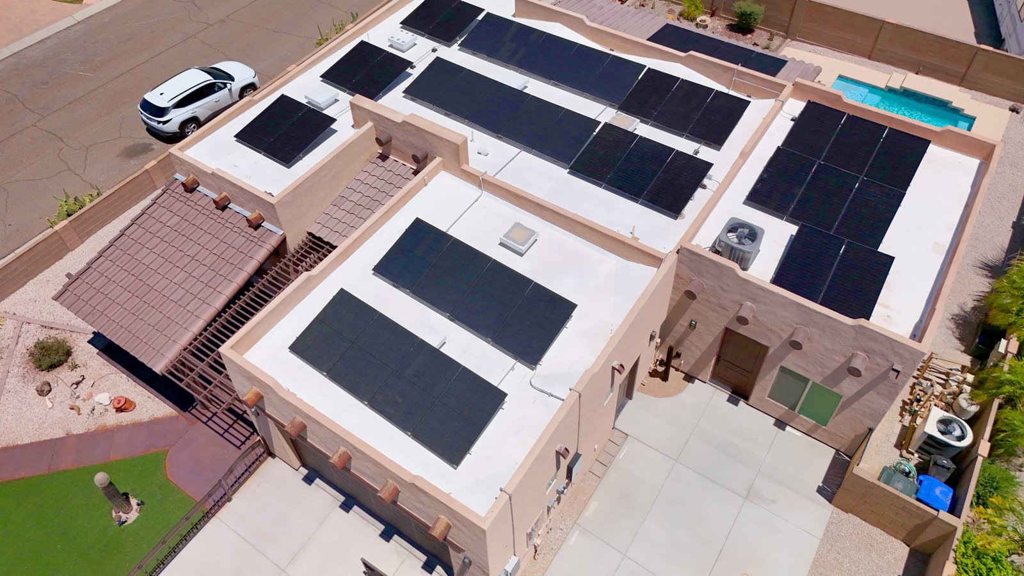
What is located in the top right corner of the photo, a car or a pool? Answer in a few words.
pool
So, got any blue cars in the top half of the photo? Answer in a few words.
No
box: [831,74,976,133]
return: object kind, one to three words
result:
swimming pool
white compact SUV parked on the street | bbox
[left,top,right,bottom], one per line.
[136,60,261,141]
